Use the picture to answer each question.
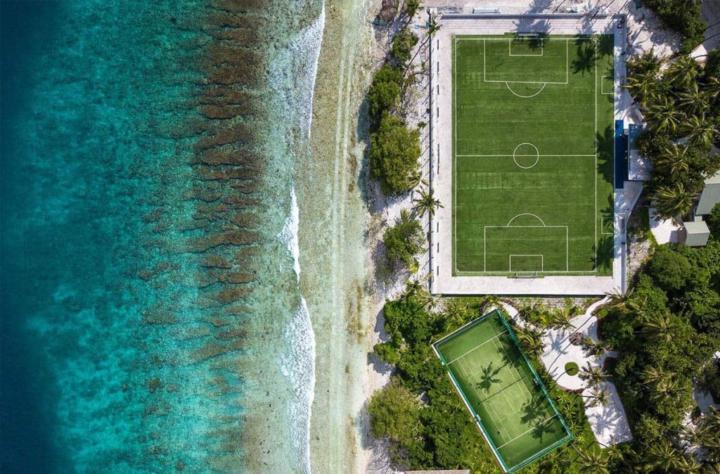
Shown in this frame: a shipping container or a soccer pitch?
soccer pitch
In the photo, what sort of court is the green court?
tennis court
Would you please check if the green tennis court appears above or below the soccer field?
below it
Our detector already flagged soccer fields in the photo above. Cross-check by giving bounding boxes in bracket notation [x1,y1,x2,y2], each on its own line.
[453,32,614,278]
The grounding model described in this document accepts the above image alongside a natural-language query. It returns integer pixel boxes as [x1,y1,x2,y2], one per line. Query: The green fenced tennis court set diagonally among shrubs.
[438,312,569,472]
